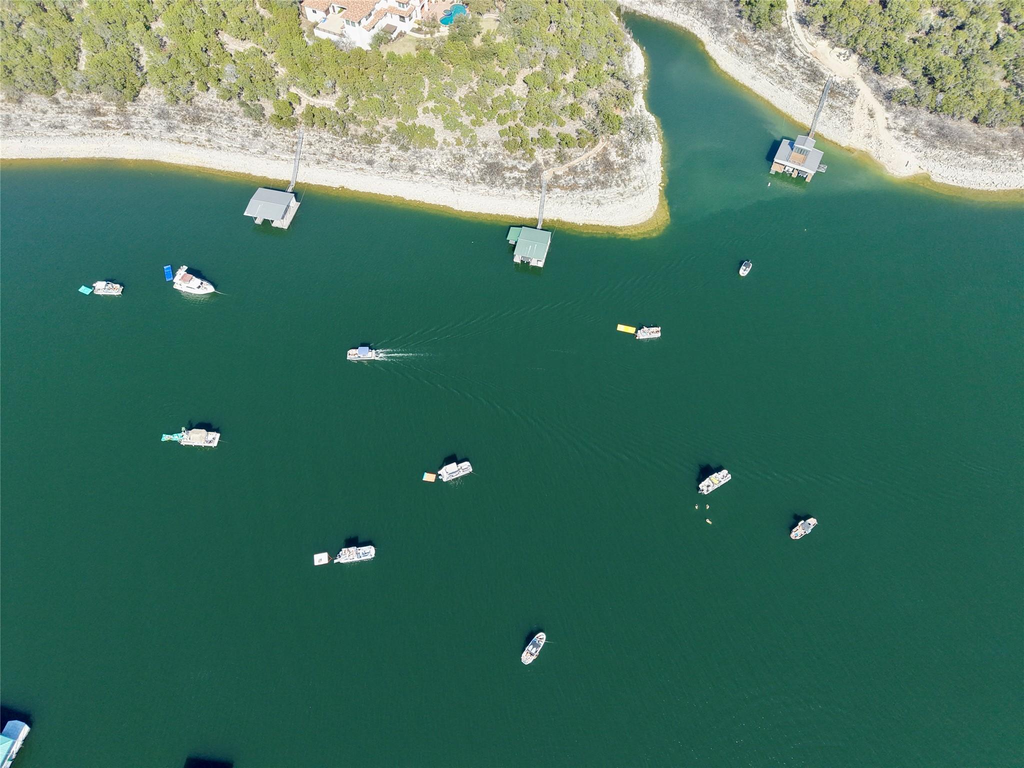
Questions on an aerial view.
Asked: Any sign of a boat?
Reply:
Yes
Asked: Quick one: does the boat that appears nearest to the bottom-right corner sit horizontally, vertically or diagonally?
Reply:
diagonally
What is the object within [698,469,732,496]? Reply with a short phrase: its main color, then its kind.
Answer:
white boat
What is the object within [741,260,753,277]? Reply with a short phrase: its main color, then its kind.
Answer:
white boat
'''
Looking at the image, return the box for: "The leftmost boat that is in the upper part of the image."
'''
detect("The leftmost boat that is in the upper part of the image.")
[90,280,124,295]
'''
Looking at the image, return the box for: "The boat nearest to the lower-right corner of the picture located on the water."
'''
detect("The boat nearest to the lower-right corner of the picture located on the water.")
[786,518,817,542]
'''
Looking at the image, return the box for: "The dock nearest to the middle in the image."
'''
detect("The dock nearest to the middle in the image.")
[507,227,551,268]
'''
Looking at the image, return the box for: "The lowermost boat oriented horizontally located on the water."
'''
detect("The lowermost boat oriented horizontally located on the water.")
[335,544,376,562]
